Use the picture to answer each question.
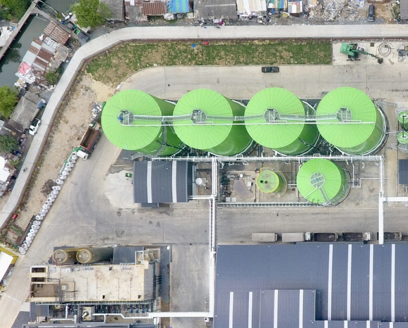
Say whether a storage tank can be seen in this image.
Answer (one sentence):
Yes, there's a storage tank down there.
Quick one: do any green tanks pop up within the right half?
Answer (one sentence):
Yes, within the right half there is a green tank.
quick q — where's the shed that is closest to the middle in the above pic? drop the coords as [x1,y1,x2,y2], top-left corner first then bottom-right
[131,160,194,208]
